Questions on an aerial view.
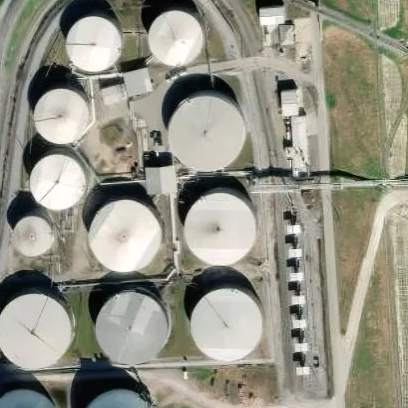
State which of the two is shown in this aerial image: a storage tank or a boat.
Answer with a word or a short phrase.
storage tank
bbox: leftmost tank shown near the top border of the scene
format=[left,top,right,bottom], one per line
[65,10,124,73]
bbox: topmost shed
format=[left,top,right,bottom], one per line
[260,4,285,25]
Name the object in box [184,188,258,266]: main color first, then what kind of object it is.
white storage tank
